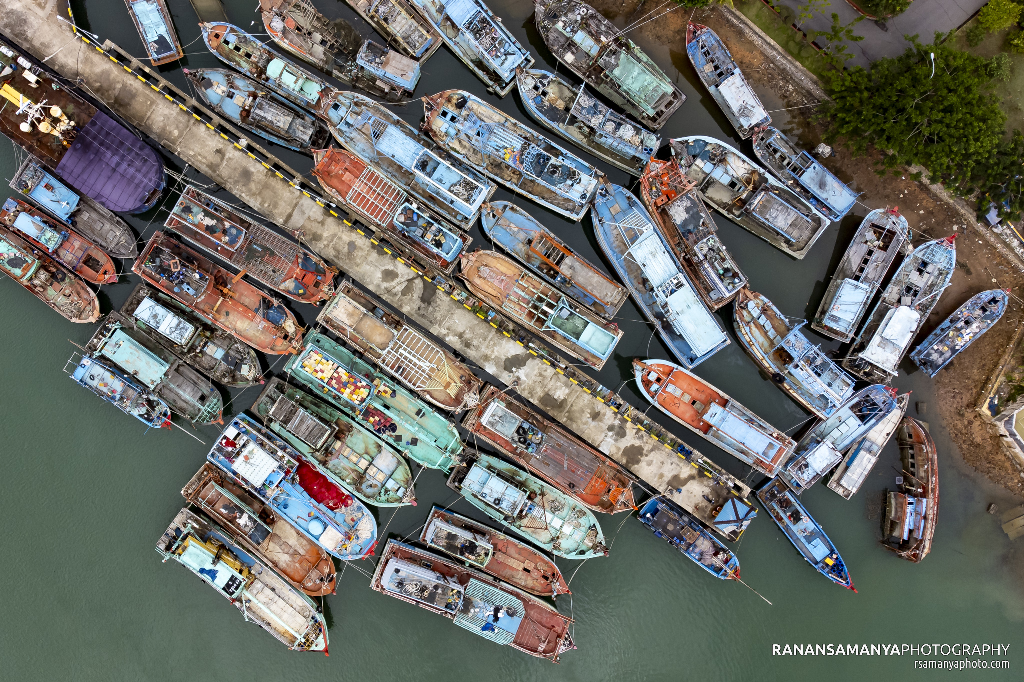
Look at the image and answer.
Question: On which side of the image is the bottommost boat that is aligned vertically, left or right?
right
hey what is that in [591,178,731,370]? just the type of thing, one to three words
boat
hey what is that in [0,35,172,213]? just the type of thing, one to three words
ship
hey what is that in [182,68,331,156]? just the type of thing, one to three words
boat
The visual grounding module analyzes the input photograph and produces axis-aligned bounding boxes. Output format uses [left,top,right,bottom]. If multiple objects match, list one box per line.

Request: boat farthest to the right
[909,286,1013,378]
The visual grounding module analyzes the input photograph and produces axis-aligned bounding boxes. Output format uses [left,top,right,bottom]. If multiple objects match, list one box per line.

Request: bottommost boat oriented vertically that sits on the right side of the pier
[874,415,939,554]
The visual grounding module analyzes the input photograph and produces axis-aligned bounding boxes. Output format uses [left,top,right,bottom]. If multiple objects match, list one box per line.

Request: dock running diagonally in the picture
[0,0,756,543]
